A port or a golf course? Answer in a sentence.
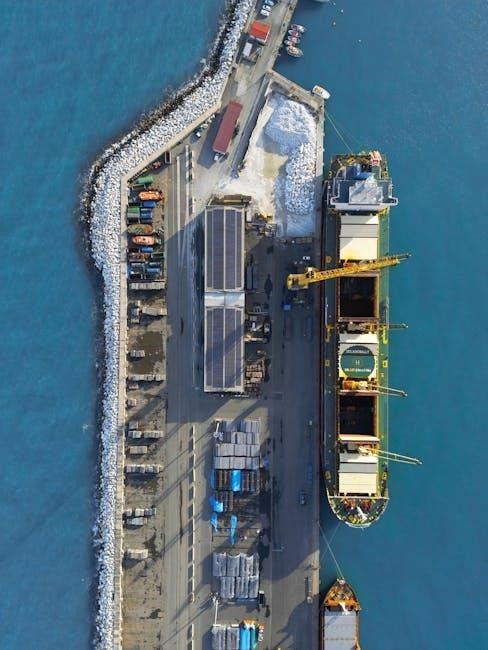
The area seen from above is a port.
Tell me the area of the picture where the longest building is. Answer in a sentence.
The longest building sits in the center section of the image.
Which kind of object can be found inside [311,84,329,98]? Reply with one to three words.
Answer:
boat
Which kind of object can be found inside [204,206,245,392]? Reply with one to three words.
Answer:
building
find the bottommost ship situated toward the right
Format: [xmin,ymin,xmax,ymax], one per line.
[319,580,362,650]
